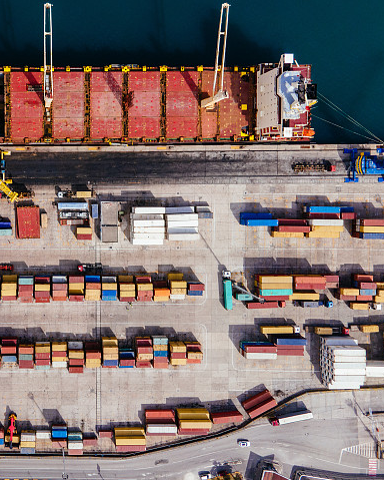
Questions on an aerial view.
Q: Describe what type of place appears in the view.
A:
port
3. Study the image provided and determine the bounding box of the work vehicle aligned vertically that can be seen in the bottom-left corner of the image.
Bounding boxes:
[5,415,20,448]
